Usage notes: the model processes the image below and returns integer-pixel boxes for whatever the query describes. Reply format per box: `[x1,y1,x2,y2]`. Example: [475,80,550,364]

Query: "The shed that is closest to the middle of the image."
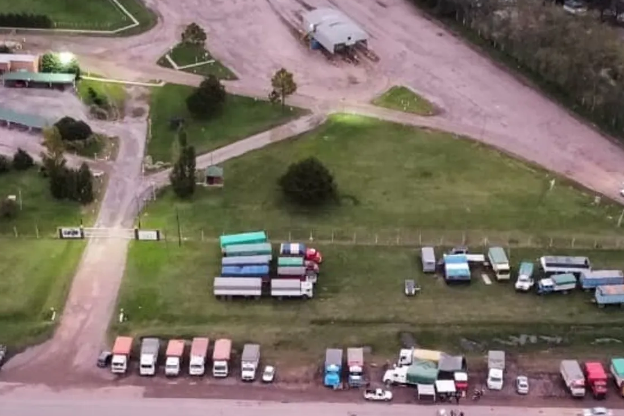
[201,165,222,184]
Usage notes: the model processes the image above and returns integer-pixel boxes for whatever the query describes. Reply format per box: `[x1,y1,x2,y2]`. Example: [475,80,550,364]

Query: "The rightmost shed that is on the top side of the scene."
[304,9,373,77]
